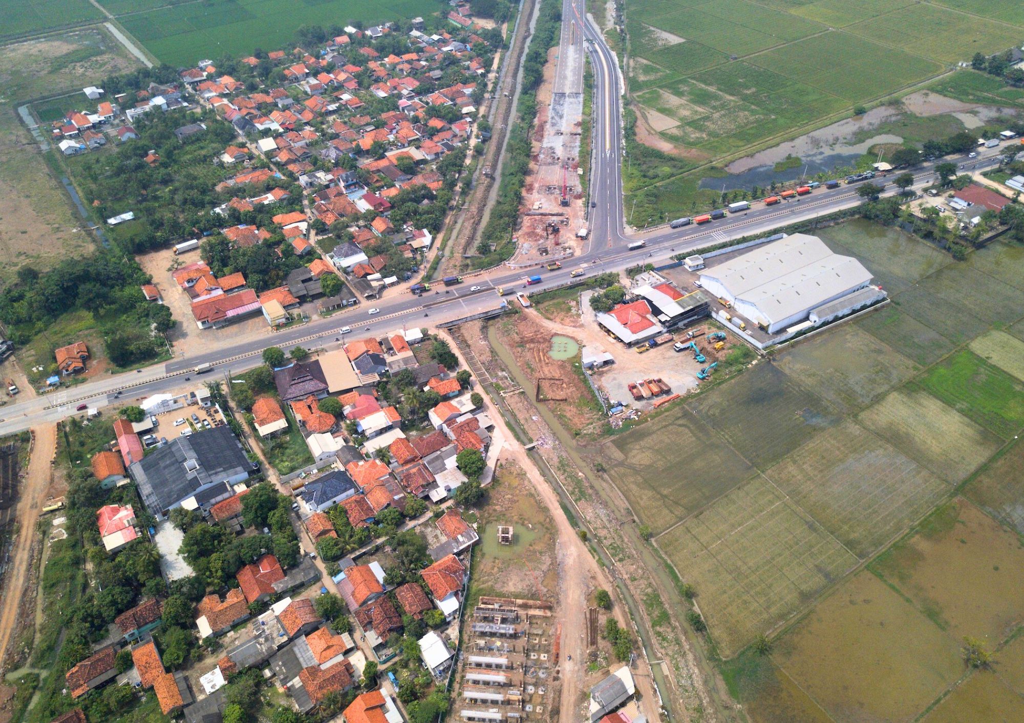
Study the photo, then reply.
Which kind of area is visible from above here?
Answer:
residential area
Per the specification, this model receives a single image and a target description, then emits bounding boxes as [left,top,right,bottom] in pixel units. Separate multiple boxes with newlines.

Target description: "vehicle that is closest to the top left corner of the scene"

[170,237,201,253]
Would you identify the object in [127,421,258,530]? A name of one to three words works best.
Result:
building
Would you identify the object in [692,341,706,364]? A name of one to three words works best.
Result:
work vehicle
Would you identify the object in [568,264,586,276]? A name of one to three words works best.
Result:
vehicle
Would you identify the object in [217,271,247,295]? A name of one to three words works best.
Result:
house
